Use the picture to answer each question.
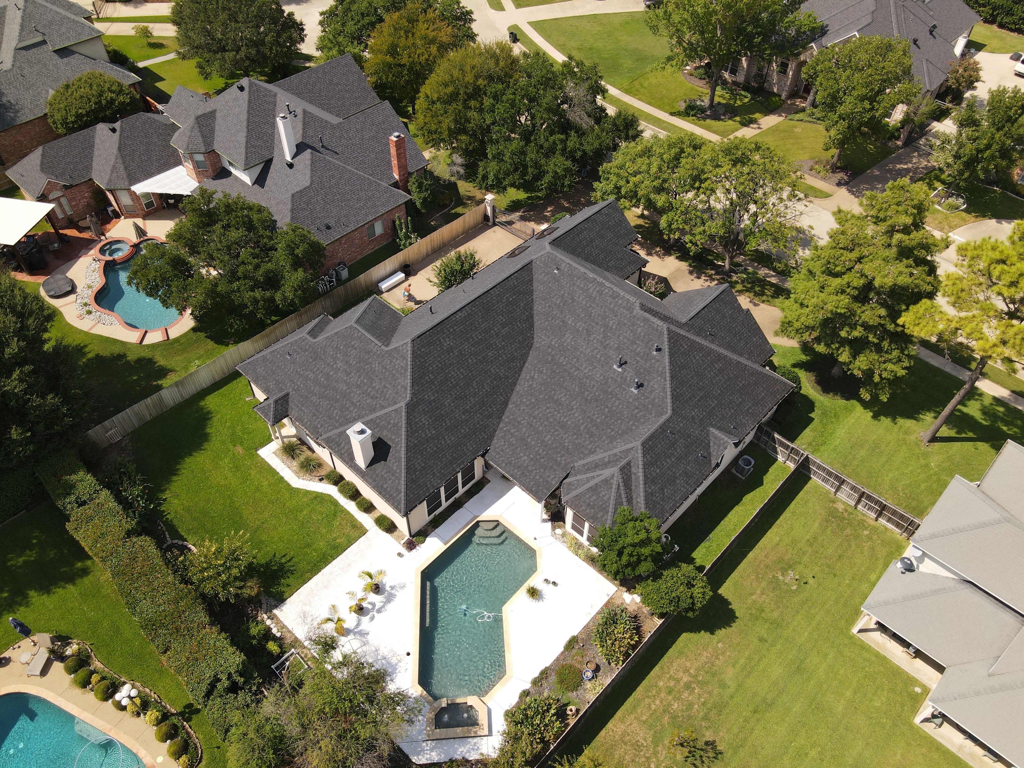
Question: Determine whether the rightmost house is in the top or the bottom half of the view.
bottom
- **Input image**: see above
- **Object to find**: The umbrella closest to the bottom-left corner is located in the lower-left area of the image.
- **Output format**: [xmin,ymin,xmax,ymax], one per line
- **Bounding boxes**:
[9,621,29,647]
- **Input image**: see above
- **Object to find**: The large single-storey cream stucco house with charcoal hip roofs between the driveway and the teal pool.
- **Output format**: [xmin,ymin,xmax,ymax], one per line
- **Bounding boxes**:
[236,198,795,552]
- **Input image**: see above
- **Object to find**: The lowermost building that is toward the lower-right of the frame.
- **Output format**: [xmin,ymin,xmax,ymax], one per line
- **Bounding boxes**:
[855,439,1024,768]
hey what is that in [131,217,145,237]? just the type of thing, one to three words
umbrella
